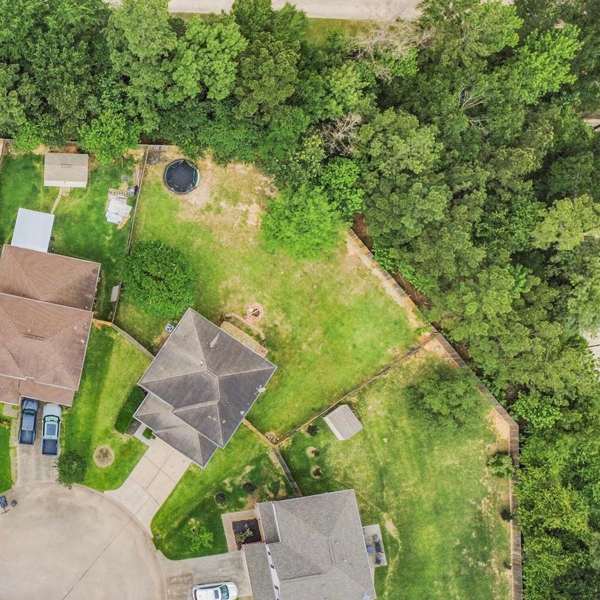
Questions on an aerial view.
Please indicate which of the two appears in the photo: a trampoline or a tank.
trampoline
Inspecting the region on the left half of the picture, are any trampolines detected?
Yes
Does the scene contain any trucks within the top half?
No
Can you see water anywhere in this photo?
No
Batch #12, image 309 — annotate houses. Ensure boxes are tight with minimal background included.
[133,307,277,468]
[242,489,377,600]
[0,244,101,408]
